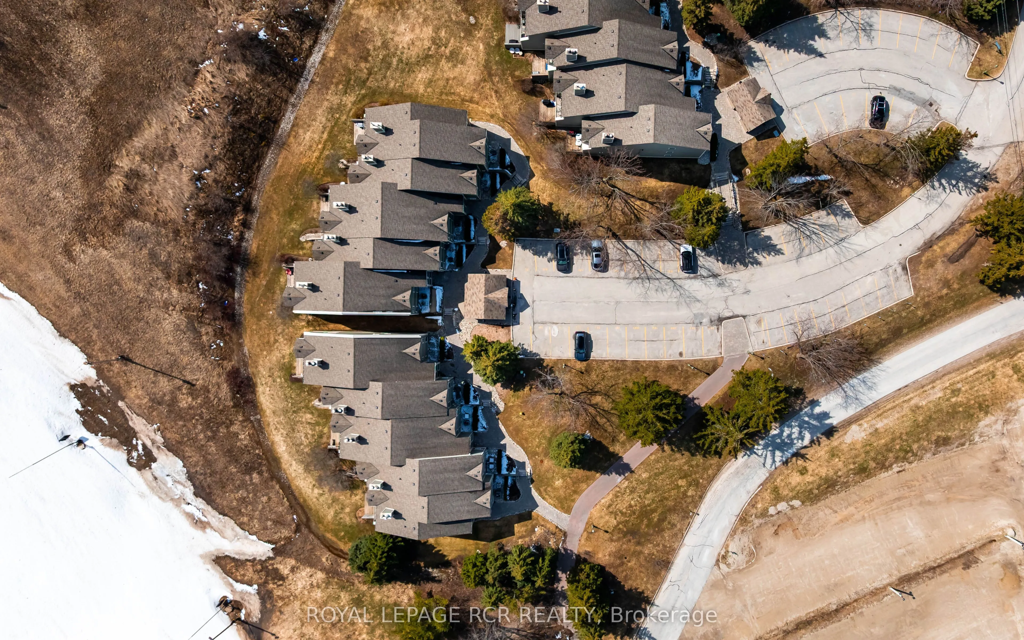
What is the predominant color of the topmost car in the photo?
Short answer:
black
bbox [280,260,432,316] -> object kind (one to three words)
house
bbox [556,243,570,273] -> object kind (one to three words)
car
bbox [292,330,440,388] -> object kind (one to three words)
house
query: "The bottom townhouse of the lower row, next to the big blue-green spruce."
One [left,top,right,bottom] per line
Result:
[363,483,494,541]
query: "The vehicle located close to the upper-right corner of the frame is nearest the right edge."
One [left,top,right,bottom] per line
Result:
[867,95,887,129]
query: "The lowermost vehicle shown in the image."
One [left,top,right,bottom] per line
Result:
[573,331,588,361]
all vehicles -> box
[590,240,604,271]
[556,243,570,273]
[867,95,887,129]
[679,244,693,273]
[573,331,588,361]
